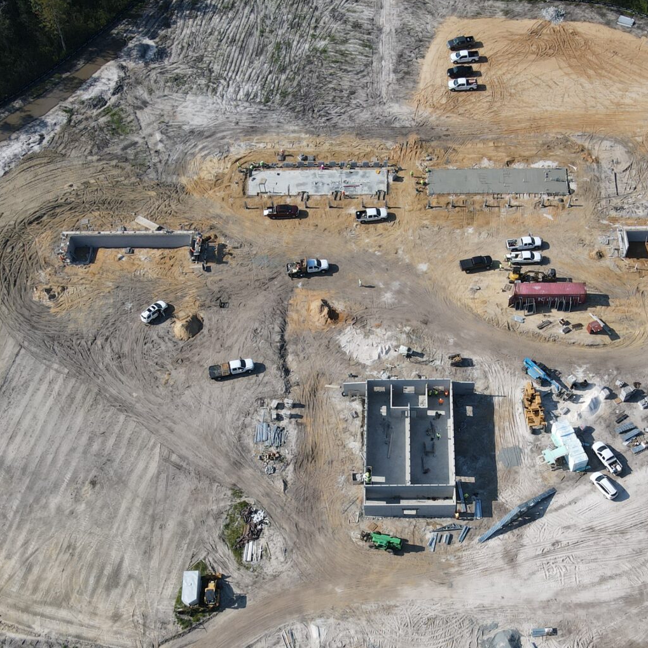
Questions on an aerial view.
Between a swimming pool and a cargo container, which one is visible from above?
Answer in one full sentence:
Visible in the photo is a cargo container.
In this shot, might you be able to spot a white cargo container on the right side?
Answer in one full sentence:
No, there is no white cargo container on the right side.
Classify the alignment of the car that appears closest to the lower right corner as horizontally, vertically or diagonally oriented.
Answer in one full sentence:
I'd say the car that appears closest to the lower right corner is aligned diagonally in the picture.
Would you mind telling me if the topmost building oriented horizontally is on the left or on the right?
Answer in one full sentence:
It is on the left.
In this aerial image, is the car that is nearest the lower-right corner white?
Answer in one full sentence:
Yes, white is the color of the car that is nearest the lower-right corner.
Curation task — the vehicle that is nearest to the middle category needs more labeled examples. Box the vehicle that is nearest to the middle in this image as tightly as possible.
[286,260,331,280]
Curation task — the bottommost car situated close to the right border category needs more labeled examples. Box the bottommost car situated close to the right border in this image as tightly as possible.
[588,473,621,502]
